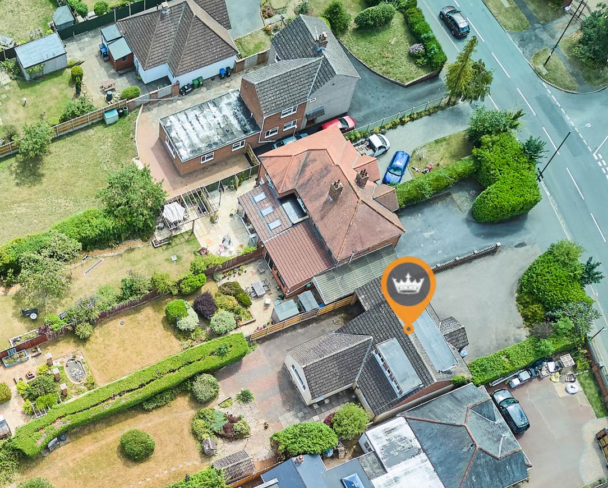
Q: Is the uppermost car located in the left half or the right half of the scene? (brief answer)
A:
right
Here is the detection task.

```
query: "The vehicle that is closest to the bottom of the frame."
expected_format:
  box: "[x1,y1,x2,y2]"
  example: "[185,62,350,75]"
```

[489,386,536,439]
